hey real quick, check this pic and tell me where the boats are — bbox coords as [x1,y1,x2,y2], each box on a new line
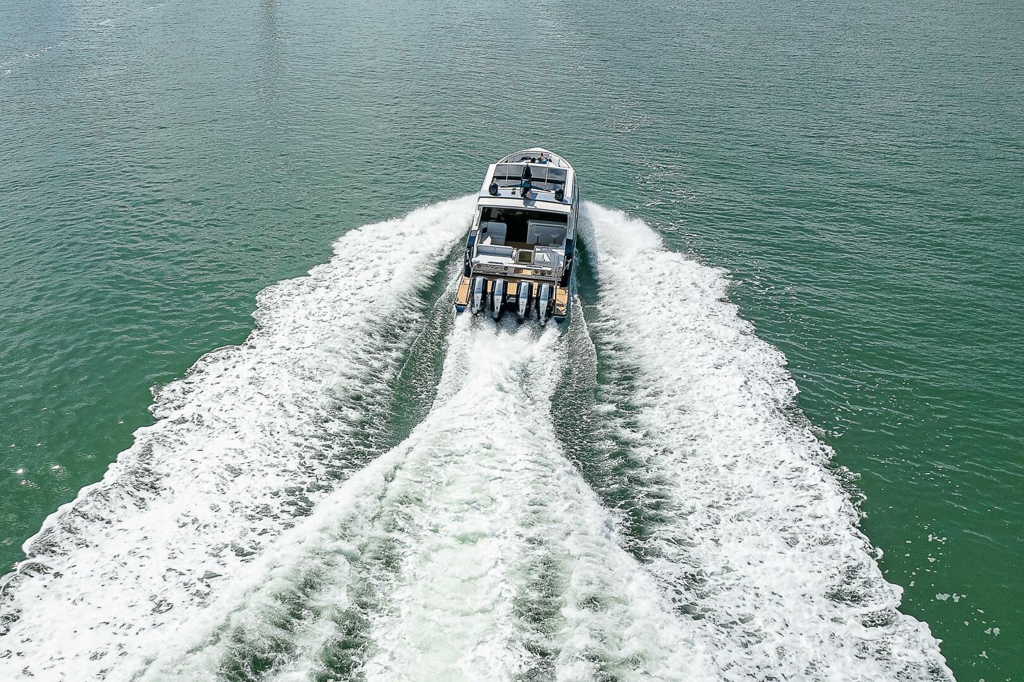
[455,146,579,328]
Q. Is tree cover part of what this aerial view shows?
No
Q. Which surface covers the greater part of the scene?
water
